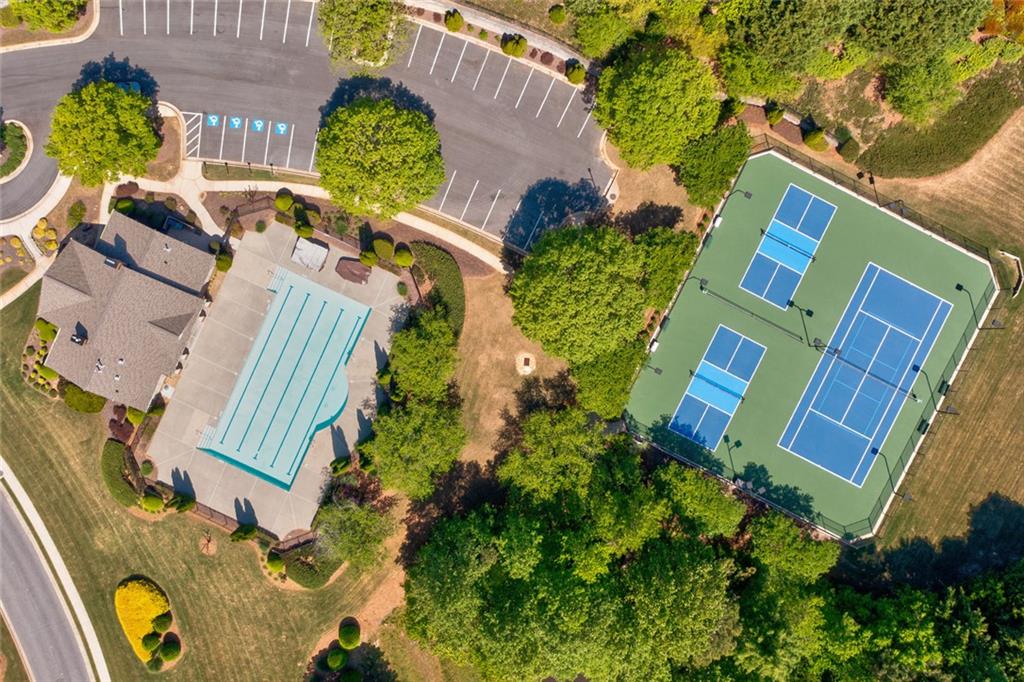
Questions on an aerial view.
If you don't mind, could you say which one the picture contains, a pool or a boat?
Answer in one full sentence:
There is a pool in the scene.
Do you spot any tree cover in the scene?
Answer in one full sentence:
Yes, tree cover can be seen from above here.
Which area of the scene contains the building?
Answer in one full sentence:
The building is in the left part of the image.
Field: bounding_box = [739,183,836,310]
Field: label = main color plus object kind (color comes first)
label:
blue sports court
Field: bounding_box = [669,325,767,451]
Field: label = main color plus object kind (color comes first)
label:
blue sports court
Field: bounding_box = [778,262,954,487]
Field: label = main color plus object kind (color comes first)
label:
blue tennis court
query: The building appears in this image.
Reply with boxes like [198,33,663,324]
[39,209,216,412]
